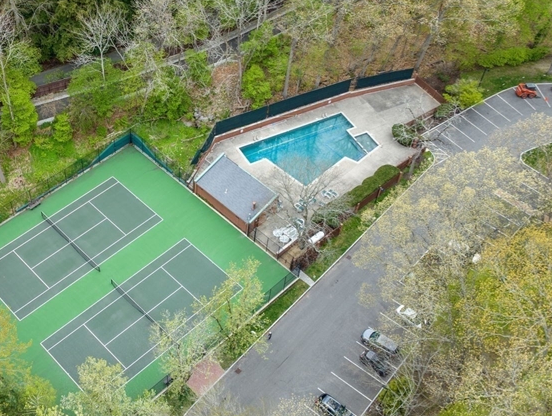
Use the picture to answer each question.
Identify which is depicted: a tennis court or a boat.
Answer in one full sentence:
There is a tennis court in the scene.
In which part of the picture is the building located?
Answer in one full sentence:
The building is located in the center region of the scene.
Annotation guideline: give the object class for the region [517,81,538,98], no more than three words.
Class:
work vehicle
